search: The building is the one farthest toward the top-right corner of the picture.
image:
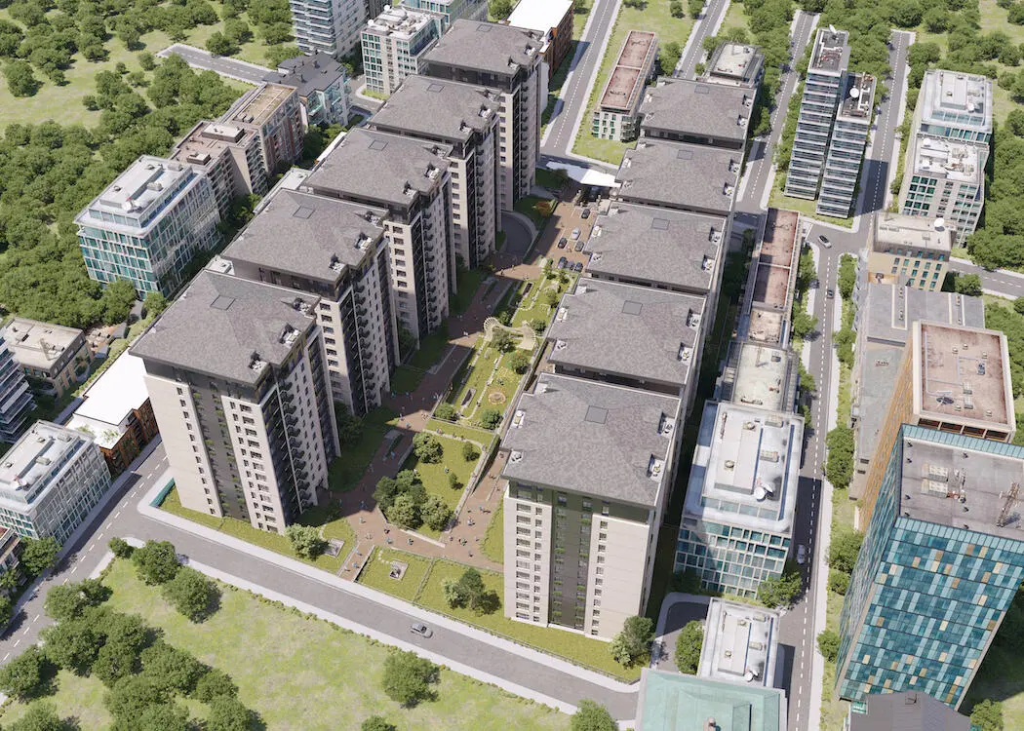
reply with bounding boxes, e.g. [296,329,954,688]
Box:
[902,71,994,156]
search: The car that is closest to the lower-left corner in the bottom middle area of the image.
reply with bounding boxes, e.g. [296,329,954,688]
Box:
[408,619,431,637]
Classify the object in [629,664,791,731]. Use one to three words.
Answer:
house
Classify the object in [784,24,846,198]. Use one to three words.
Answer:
building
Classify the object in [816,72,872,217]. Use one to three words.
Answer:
building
